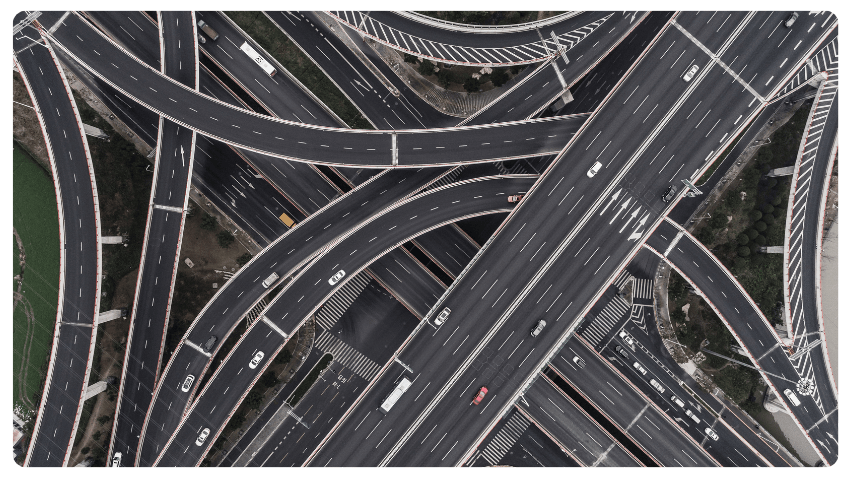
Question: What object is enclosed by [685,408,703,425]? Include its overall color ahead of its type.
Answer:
white vehicle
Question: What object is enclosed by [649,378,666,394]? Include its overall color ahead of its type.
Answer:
white car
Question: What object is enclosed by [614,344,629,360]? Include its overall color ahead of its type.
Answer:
gray car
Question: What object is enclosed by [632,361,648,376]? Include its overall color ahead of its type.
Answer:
white car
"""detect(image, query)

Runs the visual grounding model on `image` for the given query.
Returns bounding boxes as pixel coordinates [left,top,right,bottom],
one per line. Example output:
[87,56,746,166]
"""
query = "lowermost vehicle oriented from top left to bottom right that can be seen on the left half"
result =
[277,210,299,229]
